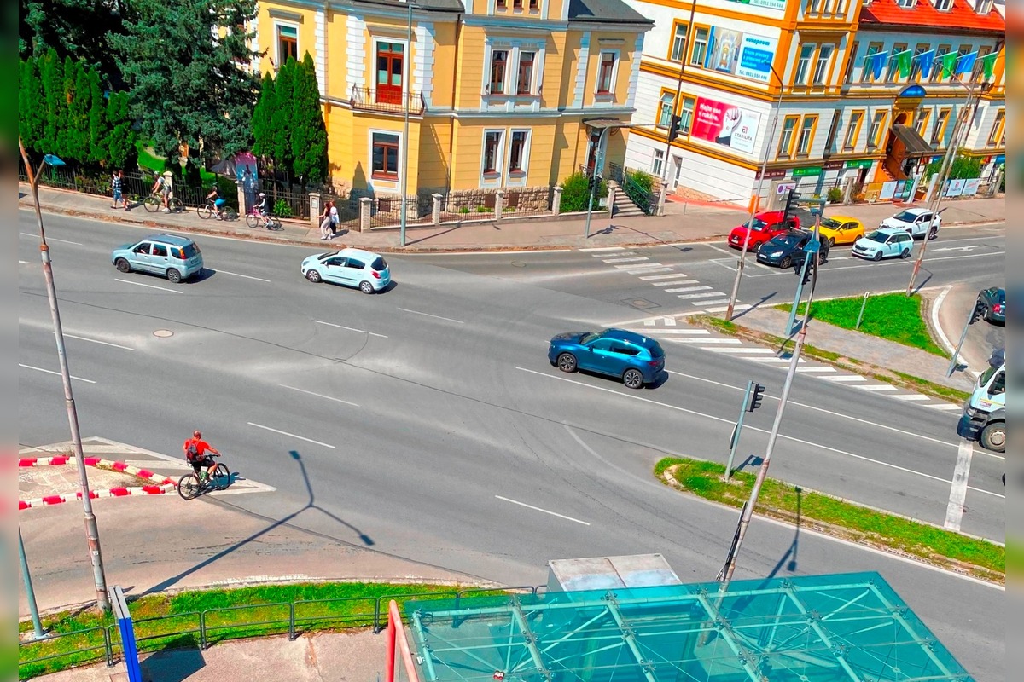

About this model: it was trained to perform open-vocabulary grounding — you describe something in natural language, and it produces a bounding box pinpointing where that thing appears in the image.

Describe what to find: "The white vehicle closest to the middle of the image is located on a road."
[297,247,394,294]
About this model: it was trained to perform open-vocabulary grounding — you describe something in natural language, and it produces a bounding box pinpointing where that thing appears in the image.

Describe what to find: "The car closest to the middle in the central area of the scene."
[548,330,666,389]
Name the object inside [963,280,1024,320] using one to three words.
car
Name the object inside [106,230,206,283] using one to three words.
car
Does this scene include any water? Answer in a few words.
No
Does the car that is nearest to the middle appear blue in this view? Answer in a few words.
Yes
